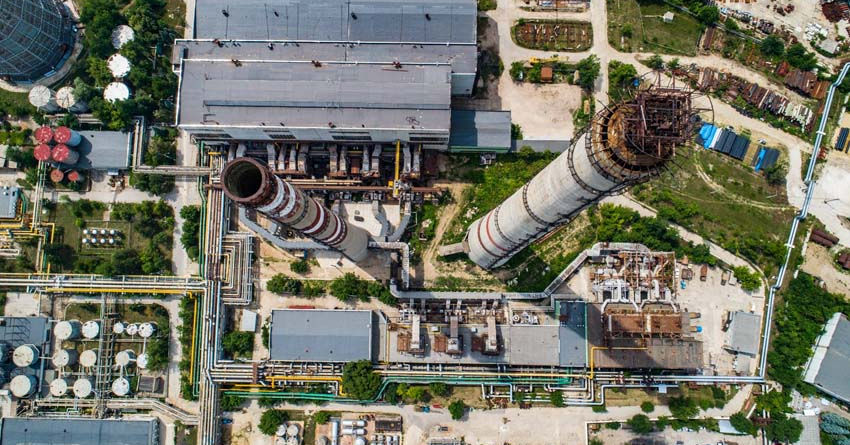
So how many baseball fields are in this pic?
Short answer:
0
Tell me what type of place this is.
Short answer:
industrial area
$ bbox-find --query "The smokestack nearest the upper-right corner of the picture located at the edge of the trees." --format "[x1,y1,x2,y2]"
[438,76,700,267]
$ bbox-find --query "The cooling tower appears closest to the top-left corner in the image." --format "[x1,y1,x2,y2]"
[0,0,78,86]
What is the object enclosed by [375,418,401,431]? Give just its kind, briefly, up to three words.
shed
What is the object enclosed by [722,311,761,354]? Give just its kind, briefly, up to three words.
building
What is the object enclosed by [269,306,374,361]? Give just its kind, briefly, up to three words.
building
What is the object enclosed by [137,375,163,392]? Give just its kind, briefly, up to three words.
shed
